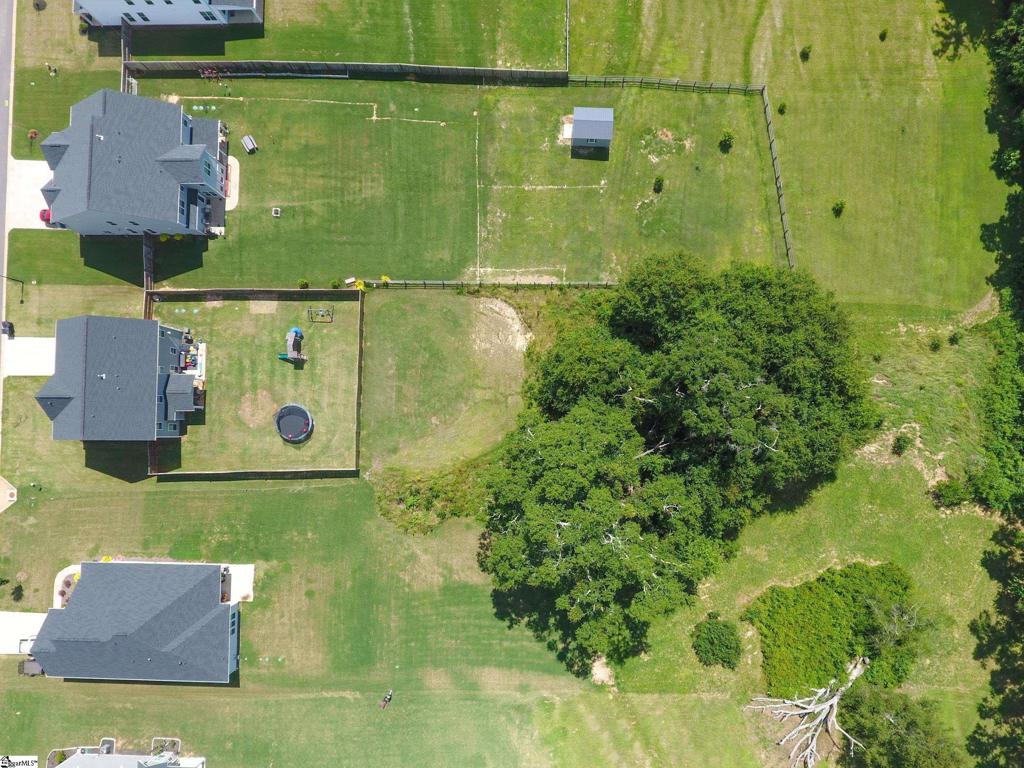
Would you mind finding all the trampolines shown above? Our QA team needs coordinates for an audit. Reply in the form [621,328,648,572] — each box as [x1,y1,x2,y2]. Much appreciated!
[272,403,315,440]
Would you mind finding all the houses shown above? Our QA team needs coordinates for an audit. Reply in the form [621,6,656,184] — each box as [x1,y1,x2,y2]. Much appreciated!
[35,315,206,442]
[40,89,228,236]
[30,559,238,684]
[69,0,267,25]
[59,752,204,768]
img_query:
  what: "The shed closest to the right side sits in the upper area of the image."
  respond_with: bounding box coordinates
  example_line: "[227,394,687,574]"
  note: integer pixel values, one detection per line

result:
[571,109,615,147]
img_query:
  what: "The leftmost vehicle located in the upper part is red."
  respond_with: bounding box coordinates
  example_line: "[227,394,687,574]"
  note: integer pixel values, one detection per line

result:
[40,209,55,225]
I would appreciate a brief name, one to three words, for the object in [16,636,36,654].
vehicle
